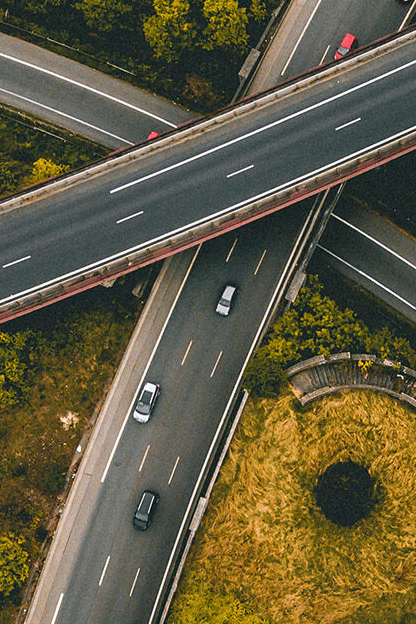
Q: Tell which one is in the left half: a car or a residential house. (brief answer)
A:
car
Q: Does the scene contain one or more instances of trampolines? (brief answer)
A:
No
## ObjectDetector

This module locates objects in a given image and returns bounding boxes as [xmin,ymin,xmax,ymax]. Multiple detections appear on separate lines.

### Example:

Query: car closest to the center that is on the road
[215,283,239,317]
